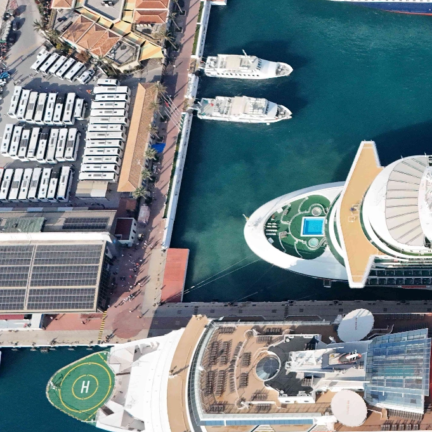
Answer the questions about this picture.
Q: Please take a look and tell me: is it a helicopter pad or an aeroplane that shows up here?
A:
helicopter pad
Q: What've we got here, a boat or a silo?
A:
boat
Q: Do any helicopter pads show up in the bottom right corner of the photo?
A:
No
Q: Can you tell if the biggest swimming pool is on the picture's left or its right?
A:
right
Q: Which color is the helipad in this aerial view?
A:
green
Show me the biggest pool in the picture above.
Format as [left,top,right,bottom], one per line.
[301,217,326,237]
